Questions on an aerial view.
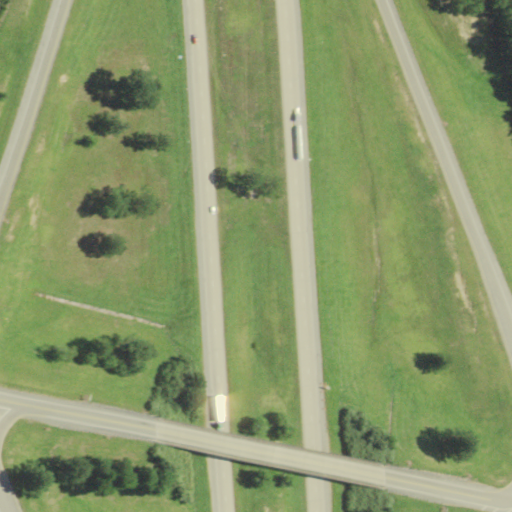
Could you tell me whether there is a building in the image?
No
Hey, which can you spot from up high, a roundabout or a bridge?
bridge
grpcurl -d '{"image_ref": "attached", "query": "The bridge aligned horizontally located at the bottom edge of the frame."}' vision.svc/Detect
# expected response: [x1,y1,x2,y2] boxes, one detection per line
[154,420,386,489]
